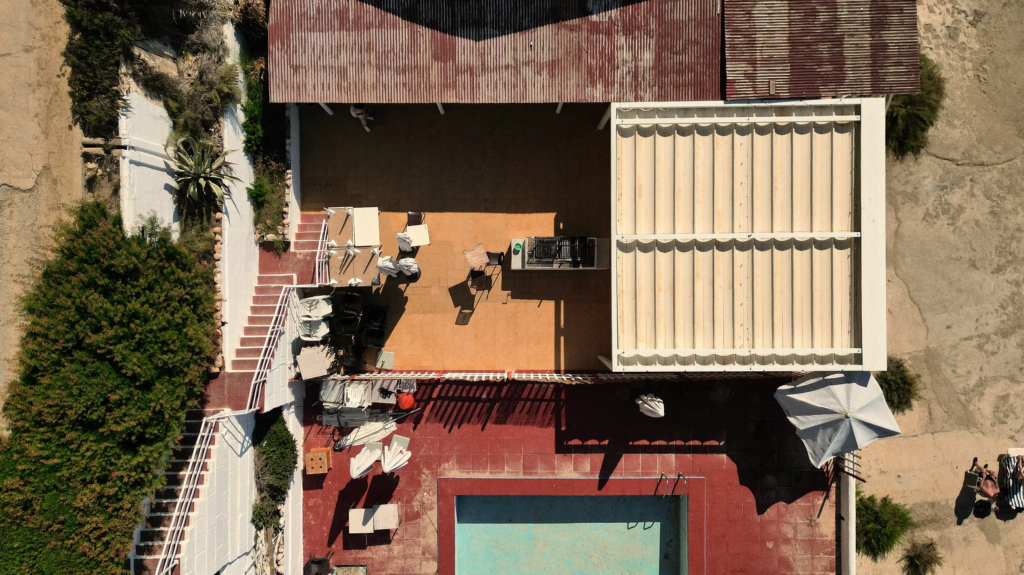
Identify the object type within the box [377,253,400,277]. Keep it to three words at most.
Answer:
umbrella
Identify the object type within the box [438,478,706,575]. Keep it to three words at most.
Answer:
swimming pool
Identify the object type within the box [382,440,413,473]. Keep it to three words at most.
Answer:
umbrella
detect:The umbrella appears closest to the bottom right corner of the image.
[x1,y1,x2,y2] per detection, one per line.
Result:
[774,354,901,469]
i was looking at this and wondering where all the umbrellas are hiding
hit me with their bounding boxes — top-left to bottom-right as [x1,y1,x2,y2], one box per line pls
[636,392,664,416]
[382,440,413,473]
[399,257,424,276]
[367,405,403,419]
[377,253,400,277]
[353,448,380,479]
[399,230,423,252]
[774,354,901,469]
[317,403,373,427]
[334,419,398,448]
